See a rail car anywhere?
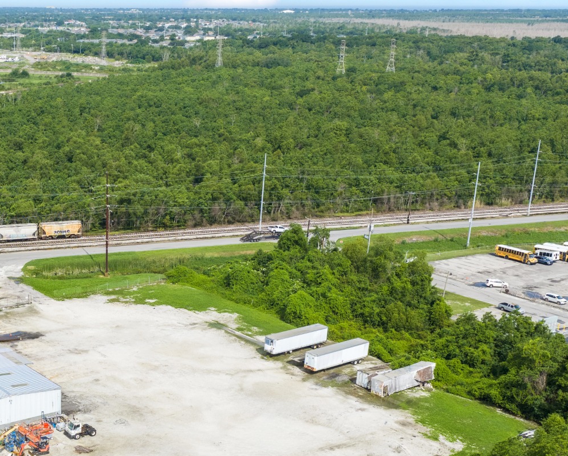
Yes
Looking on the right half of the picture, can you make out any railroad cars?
No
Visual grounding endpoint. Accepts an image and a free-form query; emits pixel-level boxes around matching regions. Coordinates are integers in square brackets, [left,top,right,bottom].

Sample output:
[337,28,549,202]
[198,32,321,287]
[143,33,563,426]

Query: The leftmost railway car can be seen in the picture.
[0,223,39,241]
